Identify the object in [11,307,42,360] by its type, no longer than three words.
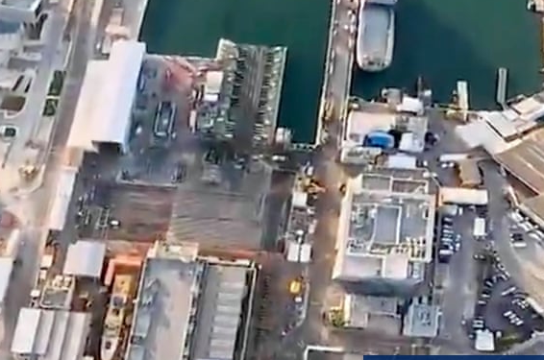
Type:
building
